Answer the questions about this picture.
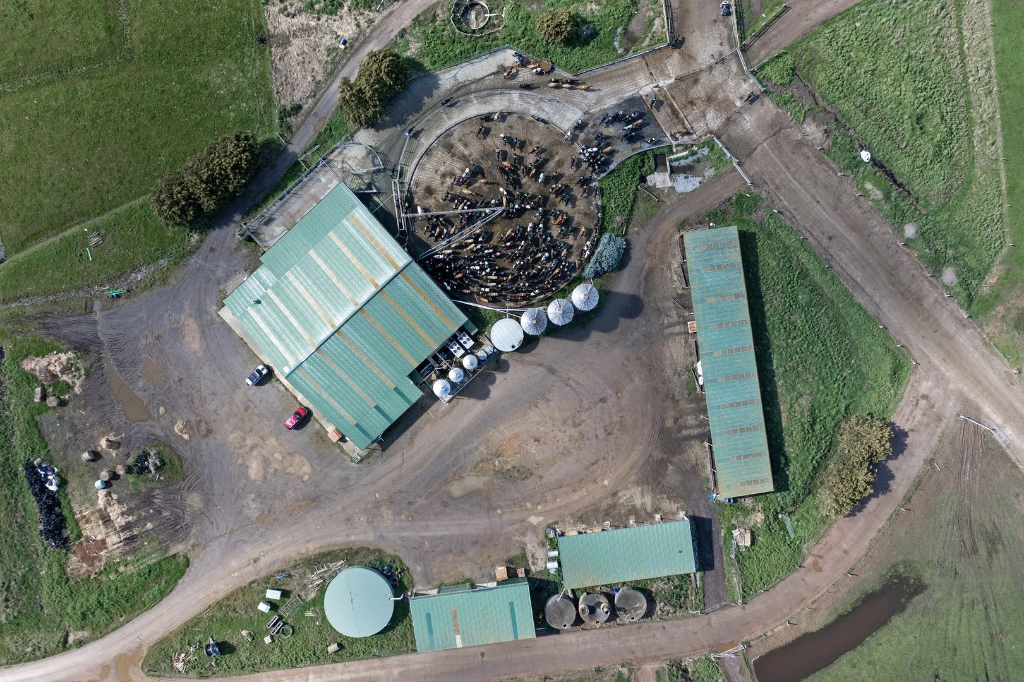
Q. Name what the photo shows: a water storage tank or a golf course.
water storage tank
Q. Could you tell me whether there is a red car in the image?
Yes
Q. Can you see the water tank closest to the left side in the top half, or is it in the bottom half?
bottom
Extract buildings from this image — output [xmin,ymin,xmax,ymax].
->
[558,511,695,602]
[409,573,536,654]
[223,155,468,450]
[677,226,774,499]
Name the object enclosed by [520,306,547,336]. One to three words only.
silo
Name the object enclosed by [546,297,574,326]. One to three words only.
silo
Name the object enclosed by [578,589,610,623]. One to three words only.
storage tank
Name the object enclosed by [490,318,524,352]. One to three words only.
storage tank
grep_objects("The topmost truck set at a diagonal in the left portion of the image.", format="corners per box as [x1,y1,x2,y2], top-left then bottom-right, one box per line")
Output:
[242,363,272,388]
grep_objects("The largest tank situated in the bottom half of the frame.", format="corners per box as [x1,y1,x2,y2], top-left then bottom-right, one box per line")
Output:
[324,562,405,637]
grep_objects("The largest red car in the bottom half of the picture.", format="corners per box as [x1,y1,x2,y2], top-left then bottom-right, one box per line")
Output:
[282,406,309,431]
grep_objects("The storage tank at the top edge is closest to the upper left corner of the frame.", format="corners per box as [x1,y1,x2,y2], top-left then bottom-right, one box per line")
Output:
[463,0,499,30]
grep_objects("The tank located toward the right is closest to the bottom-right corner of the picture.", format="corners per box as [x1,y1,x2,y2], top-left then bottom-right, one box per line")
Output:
[613,585,647,621]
